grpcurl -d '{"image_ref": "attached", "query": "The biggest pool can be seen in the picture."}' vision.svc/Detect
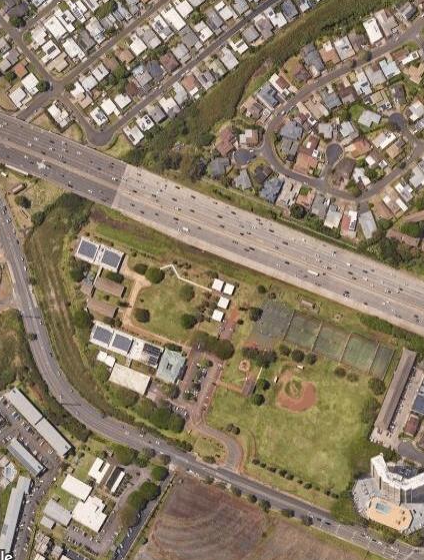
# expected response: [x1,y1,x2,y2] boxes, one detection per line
[1,462,17,481]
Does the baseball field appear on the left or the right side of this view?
right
